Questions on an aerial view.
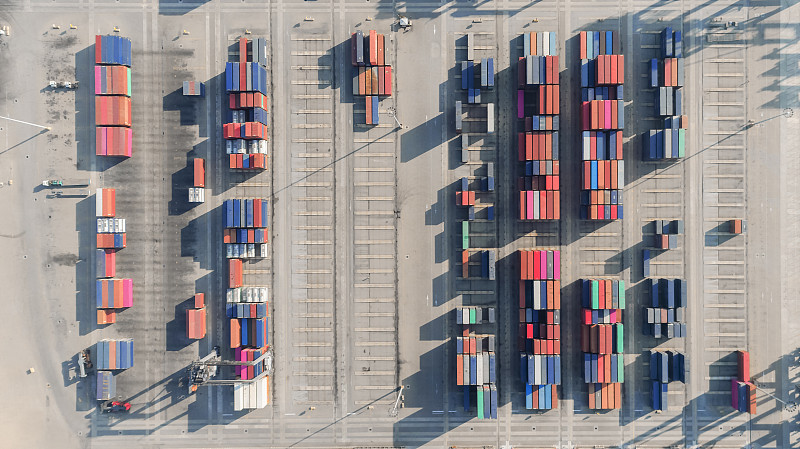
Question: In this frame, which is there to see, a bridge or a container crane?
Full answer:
This aerial view contains a container crane.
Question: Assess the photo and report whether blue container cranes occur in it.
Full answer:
No, the scene contains no blue container crane.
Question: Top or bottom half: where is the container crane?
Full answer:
The container crane sits in the bottom half of the picture.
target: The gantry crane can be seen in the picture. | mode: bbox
[187,345,274,393]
